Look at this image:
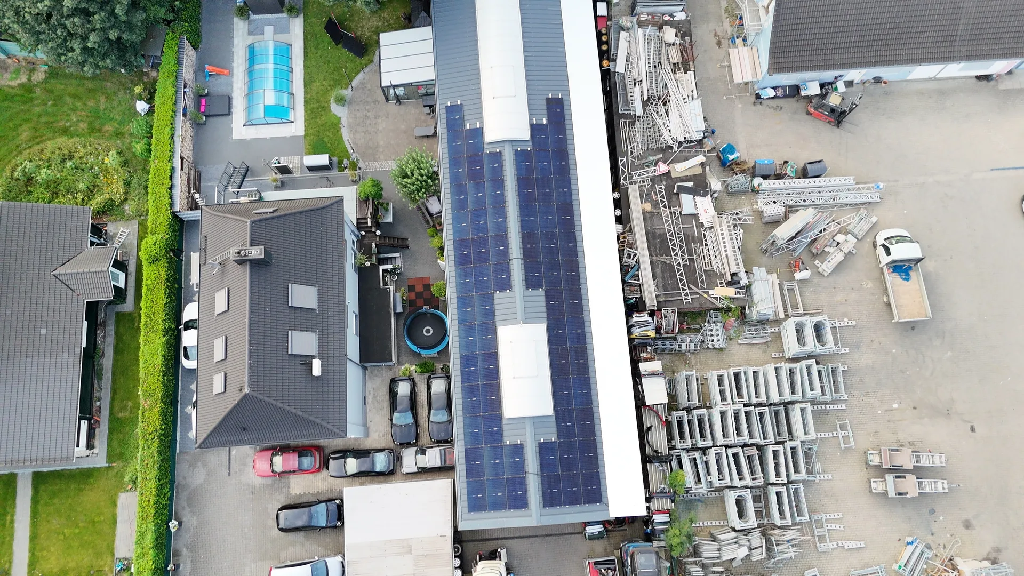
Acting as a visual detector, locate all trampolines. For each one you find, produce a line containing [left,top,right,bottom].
[403,310,446,361]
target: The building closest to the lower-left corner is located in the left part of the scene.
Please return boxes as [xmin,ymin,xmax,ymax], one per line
[0,199,136,471]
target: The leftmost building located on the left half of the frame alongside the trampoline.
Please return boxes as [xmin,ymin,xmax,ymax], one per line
[194,183,398,451]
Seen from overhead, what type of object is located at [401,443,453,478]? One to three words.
car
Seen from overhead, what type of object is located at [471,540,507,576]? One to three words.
van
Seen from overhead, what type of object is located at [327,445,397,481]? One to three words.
car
